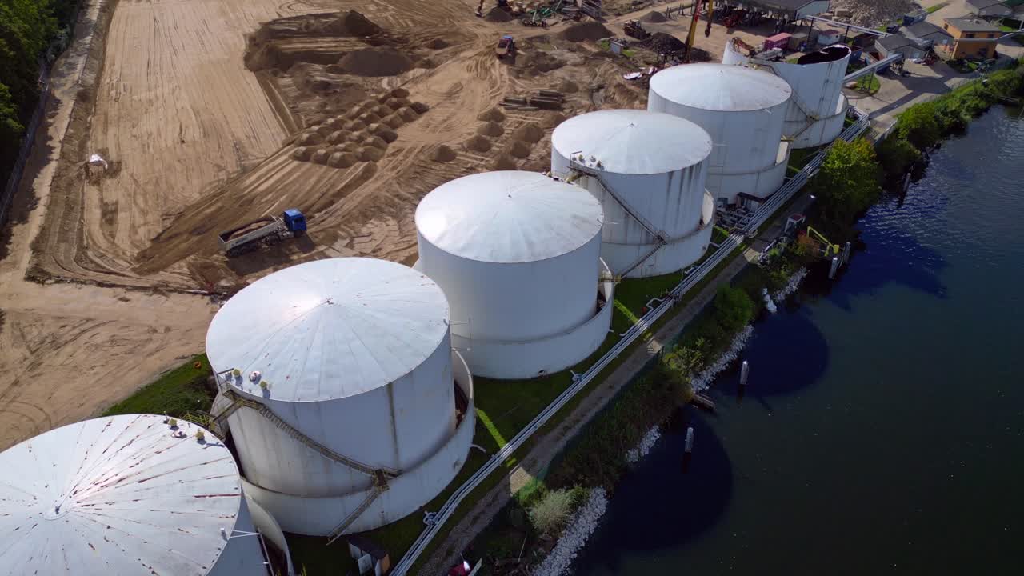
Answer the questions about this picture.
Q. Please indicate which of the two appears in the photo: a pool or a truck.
truck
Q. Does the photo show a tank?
Yes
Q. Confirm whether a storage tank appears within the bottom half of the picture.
Yes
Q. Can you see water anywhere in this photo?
Yes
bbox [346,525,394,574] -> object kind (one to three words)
shed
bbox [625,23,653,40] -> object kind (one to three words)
work vehicle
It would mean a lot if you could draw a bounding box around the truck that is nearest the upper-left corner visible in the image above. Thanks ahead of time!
[210,208,305,256]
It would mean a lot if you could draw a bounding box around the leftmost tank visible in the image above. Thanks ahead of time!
[0,413,277,576]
